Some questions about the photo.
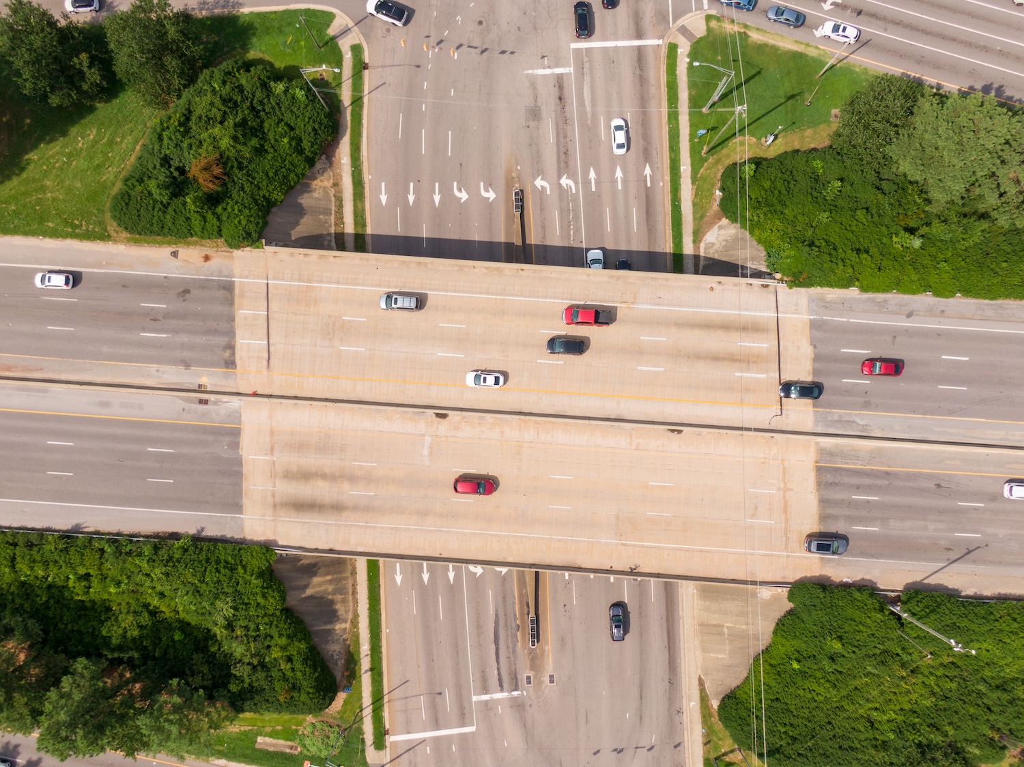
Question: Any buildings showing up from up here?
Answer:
No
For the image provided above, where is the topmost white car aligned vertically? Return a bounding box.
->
[610,117,627,155]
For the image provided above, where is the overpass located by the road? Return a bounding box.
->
[234,241,818,586]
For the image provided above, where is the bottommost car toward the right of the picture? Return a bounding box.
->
[609,603,626,642]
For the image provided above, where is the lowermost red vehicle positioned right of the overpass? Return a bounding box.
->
[860,358,904,377]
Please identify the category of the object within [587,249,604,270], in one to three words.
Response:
car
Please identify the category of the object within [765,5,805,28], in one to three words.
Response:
car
